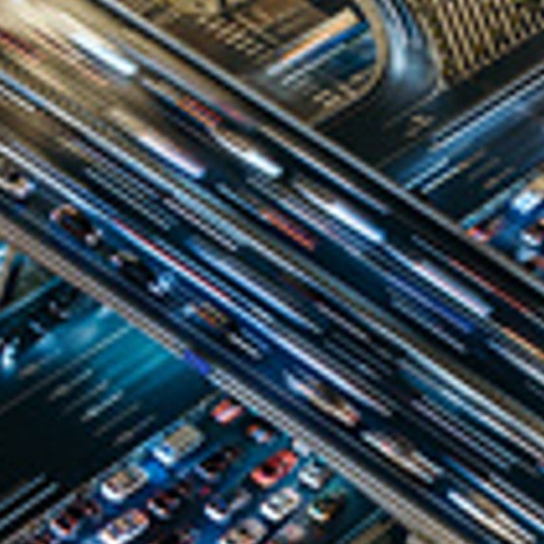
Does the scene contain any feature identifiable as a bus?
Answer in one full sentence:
Yes, looking at the shot, I can spot a bus.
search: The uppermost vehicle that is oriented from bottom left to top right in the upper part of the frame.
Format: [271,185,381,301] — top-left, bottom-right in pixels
[275,3,360,77]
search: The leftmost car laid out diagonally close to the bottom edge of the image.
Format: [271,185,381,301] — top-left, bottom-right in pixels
[48,495,98,537]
